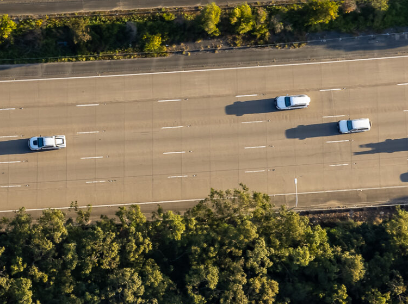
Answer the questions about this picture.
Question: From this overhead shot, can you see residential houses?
No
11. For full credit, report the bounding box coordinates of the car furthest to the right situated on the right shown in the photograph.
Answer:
[337,118,372,135]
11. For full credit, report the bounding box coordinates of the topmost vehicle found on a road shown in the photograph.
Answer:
[273,95,310,110]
